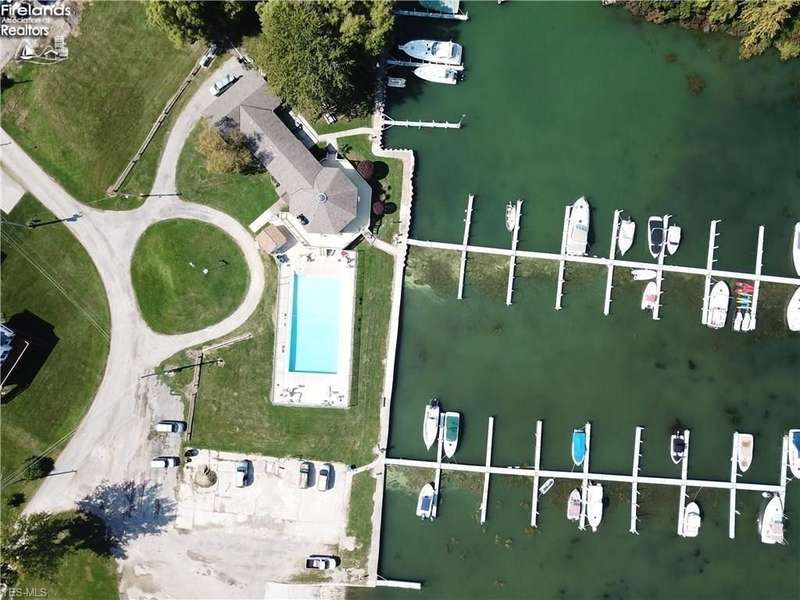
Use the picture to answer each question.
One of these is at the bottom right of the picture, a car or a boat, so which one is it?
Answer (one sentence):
It is a boat that can be seen at the bottom right of the picture.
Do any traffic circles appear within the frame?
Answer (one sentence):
Yes, I can see a traffic circle in this picture.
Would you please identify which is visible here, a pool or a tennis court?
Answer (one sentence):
It is a pool that can be seen here.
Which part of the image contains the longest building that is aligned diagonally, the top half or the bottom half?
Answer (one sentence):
The longest building that is aligned diagonally sits in the top half of the picture.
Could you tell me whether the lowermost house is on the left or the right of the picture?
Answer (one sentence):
The lowermost house is on the left side of the image.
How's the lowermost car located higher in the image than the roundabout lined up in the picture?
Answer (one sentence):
The lowermost car located higher in the image than the roundabout is oriented diagonally.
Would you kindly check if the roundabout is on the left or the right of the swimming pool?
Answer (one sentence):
It is on the left side of the swimming pool that the roundabout is positioned.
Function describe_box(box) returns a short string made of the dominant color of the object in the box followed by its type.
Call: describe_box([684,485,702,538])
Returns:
white boat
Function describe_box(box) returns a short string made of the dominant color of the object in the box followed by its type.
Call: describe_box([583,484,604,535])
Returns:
white boat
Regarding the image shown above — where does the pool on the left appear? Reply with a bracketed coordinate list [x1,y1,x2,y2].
[272,246,358,407]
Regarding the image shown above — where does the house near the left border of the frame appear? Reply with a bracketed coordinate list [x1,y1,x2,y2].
[0,327,34,399]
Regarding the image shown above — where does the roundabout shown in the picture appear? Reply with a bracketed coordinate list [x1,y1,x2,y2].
[114,202,265,358]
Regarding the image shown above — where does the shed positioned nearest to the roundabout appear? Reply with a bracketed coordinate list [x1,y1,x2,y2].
[257,223,288,254]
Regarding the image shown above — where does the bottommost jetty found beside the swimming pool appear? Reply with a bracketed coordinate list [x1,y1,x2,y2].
[386,412,791,538]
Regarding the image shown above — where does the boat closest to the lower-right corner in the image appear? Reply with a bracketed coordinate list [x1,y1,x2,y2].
[760,498,789,546]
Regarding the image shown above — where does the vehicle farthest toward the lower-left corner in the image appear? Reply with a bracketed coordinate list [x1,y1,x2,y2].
[147,458,177,471]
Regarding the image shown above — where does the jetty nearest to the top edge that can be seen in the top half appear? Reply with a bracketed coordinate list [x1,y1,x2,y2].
[397,7,468,22]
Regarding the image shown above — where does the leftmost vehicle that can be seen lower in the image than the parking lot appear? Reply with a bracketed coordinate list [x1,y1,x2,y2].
[305,557,336,573]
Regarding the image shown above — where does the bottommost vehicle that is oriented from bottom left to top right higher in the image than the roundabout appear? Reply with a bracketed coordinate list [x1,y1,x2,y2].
[207,70,239,98]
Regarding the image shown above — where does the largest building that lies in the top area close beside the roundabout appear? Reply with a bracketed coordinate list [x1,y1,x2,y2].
[211,71,378,248]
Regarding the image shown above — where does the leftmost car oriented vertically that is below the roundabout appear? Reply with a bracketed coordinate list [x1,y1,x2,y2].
[231,461,246,489]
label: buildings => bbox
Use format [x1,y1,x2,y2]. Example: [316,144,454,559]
[0,327,34,399]
[257,223,288,254]
[211,71,378,248]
